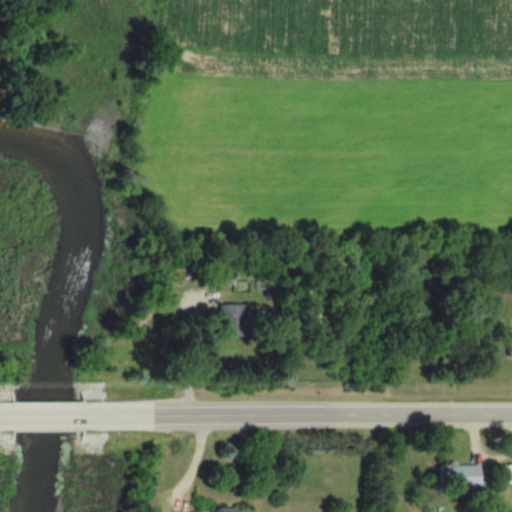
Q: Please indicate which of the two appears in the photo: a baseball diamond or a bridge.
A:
bridge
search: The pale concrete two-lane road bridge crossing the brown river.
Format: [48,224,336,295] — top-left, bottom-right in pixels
[6,388,88,445]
